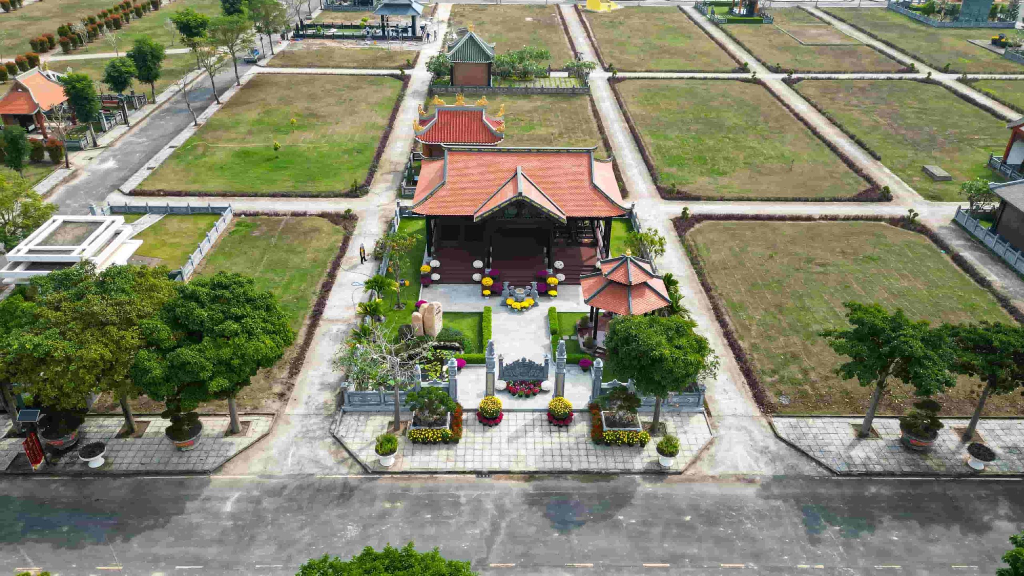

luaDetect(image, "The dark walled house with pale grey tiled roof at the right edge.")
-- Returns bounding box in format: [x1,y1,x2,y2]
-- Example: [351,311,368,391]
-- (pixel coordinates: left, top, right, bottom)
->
[989,175,1024,250]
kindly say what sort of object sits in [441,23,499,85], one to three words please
building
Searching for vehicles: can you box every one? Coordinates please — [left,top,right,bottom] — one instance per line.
[243,46,262,61]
